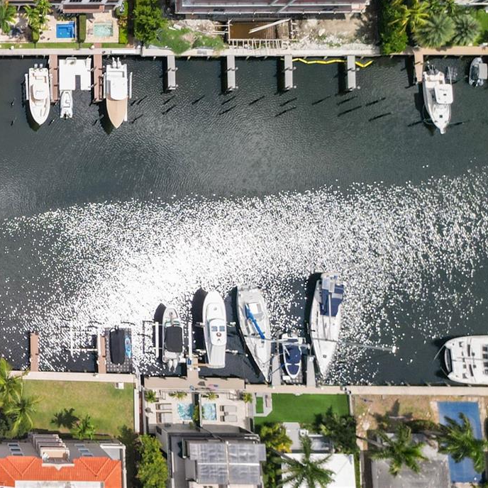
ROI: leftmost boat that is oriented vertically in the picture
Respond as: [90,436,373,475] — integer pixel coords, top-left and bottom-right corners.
[29,63,50,125]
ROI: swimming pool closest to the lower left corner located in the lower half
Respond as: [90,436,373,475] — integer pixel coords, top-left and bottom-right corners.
[176,401,195,421]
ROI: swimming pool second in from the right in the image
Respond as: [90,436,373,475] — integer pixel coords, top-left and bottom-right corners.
[203,401,218,421]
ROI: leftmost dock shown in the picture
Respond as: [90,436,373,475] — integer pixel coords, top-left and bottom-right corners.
[28,333,40,373]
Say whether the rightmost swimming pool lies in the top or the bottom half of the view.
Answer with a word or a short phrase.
bottom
